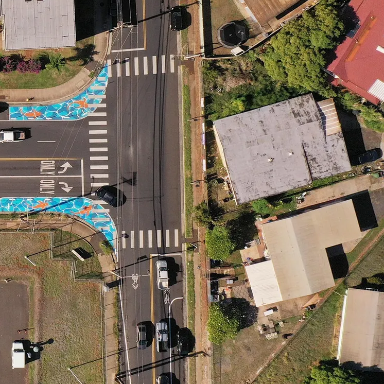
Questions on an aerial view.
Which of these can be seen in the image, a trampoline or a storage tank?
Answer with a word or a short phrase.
trampoline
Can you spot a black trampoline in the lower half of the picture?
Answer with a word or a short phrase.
No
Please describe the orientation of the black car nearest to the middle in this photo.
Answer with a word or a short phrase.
at an angle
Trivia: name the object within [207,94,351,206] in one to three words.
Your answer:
house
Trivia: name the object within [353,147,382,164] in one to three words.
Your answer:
car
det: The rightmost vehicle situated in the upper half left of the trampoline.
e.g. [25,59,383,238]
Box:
[169,6,181,31]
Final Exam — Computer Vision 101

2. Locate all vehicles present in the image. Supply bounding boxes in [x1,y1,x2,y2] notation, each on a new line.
[155,374,169,384]
[353,147,382,164]
[93,185,118,206]
[0,130,24,142]
[154,259,169,290]
[169,6,181,31]
[135,322,148,348]
[176,325,189,355]
[12,341,26,371]
[154,320,169,352]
